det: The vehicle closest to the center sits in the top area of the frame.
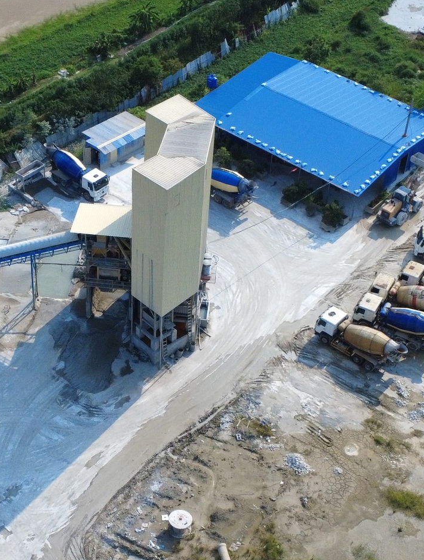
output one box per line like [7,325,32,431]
[210,171,260,208]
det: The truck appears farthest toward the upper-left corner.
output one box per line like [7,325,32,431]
[41,143,114,203]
